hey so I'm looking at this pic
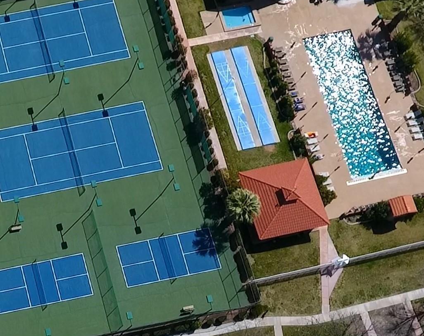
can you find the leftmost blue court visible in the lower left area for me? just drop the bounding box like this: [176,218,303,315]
[0,253,93,314]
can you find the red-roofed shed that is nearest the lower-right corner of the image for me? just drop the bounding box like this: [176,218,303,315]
[383,195,418,221]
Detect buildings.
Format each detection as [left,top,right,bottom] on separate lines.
[383,195,418,221]
[238,159,331,240]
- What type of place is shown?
sports ground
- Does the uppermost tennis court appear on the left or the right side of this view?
left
